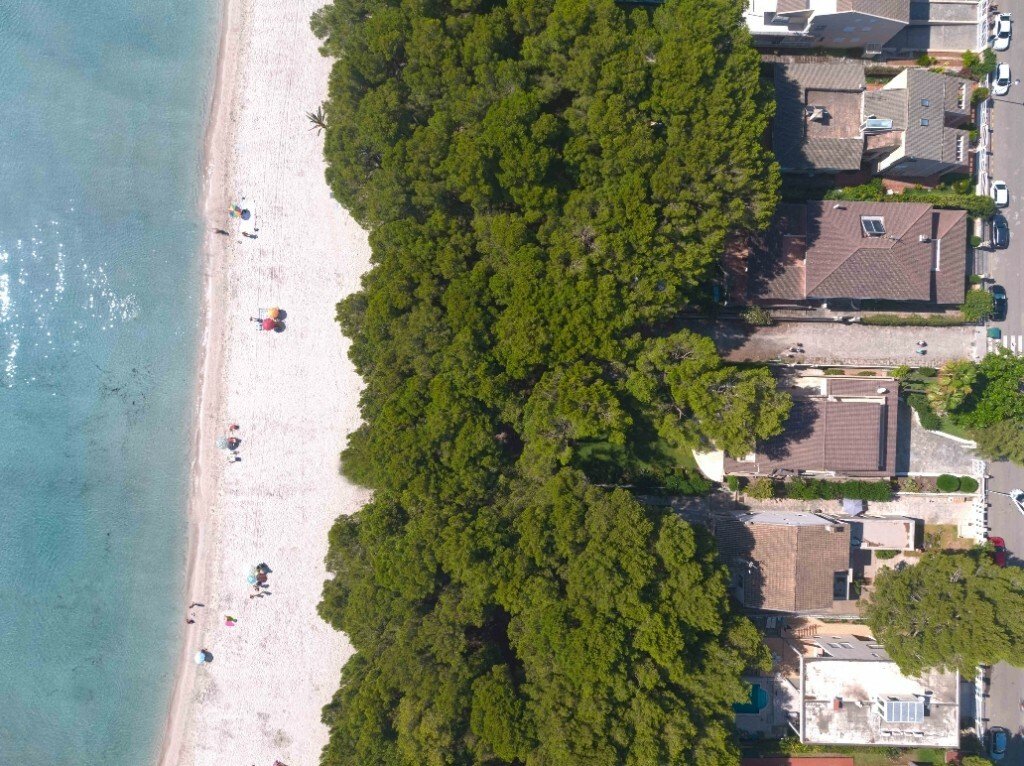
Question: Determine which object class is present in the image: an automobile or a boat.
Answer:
automobile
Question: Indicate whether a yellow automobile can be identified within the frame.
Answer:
No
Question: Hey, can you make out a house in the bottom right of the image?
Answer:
Yes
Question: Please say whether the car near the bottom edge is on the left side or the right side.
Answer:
right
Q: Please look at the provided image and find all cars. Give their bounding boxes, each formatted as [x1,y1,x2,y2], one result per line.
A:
[990,727,1012,761]
[991,213,1013,249]
[992,60,1014,95]
[988,537,1010,570]
[992,179,1013,207]
[988,11,1015,50]
[989,285,1010,320]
